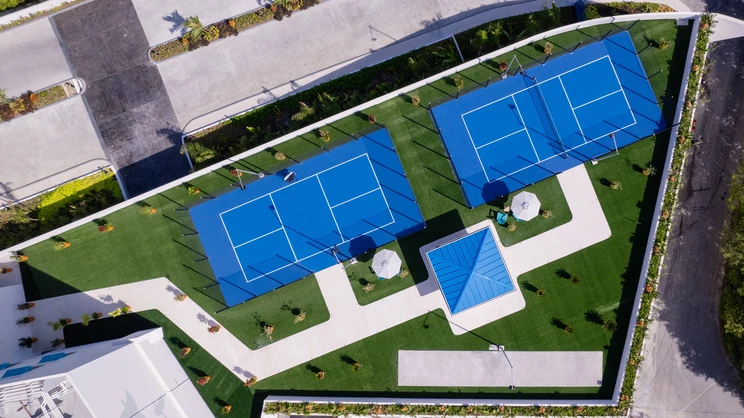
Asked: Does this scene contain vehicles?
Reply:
No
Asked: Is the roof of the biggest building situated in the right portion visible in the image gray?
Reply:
No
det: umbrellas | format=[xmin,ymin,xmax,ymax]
[371,248,403,280]
[510,191,541,222]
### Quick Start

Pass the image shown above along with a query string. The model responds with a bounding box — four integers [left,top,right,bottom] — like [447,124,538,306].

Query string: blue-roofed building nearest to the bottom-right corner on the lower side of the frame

[426,225,517,315]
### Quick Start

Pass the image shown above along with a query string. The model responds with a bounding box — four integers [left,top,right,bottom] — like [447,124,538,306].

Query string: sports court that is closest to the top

[430,31,668,207]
